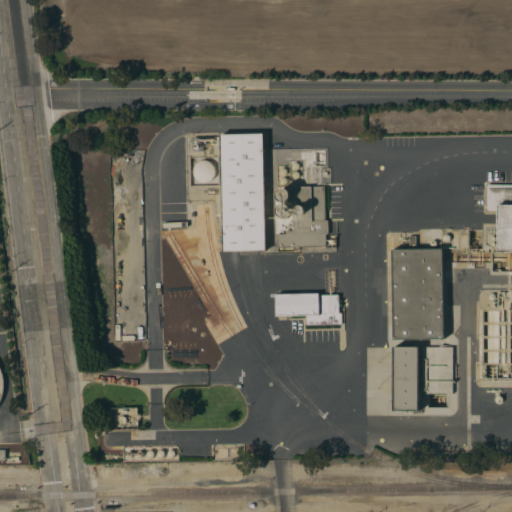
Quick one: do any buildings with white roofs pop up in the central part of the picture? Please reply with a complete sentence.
Yes, you'll find a building with a white roof in the central part of the picture.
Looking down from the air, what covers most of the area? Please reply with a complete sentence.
What you mostly see from above here is paved ground.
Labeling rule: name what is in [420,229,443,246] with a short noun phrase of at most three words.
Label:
building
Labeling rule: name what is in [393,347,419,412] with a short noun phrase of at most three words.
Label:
building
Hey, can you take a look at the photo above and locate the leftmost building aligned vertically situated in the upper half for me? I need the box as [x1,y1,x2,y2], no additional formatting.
[222,134,264,250]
